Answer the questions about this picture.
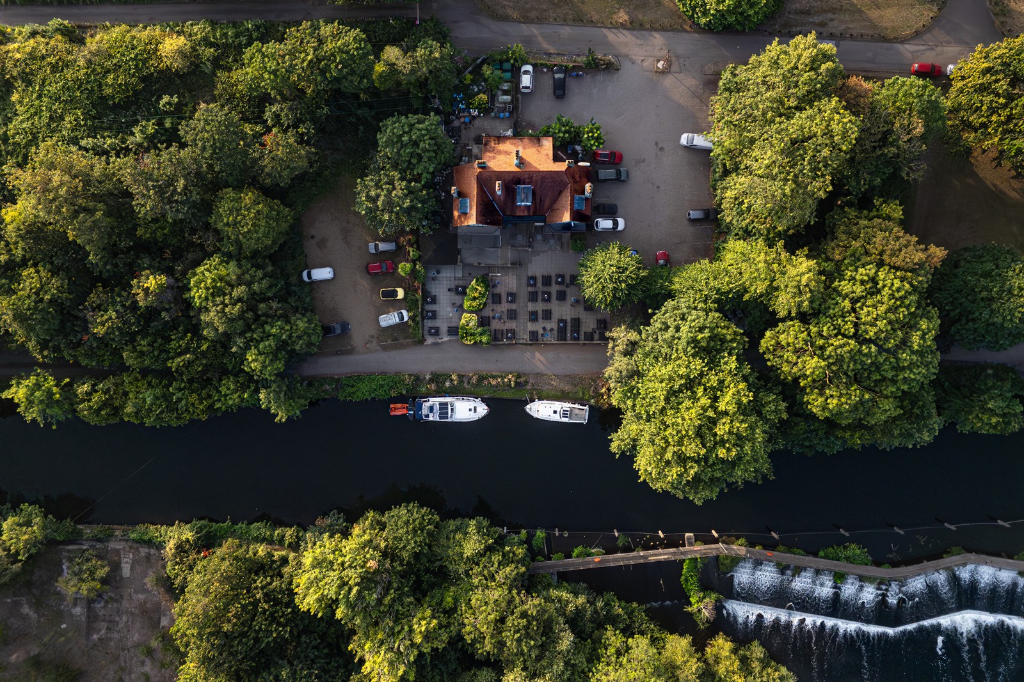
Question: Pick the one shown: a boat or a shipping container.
boat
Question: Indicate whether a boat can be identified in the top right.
No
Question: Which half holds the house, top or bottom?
top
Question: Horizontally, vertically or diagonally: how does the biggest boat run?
horizontally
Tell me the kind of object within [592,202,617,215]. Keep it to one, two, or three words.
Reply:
vehicle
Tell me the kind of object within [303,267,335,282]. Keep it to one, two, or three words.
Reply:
vehicle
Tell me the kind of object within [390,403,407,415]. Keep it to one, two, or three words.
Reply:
boat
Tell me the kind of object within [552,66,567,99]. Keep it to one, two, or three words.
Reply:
car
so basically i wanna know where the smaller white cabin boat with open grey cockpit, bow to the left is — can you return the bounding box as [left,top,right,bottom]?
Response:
[525,402,589,425]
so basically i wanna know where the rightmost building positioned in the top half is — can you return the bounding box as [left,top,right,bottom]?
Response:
[451,136,592,265]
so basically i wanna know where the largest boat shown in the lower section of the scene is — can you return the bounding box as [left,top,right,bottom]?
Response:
[416,397,489,422]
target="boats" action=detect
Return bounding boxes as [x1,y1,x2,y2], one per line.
[525,402,589,425]
[390,403,407,415]
[407,398,416,420]
[416,397,489,422]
